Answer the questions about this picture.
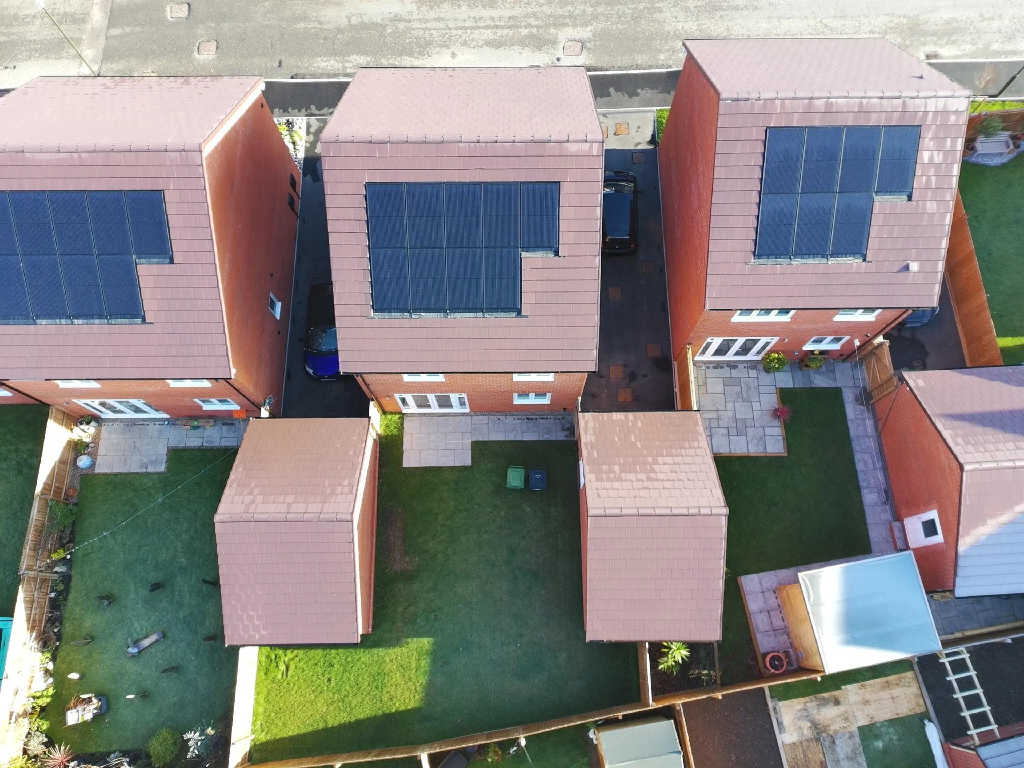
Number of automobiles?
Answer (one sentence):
In total, there are 3 automobiles in the scene.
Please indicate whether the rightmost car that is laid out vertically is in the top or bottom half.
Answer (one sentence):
The rightmost car that is laid out vertically is in the top half of the image.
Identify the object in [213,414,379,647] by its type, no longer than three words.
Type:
building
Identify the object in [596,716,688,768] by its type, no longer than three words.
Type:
shed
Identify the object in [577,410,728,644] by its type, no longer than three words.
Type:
building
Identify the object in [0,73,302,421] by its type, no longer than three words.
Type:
house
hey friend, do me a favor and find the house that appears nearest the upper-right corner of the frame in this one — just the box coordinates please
[657,36,970,363]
